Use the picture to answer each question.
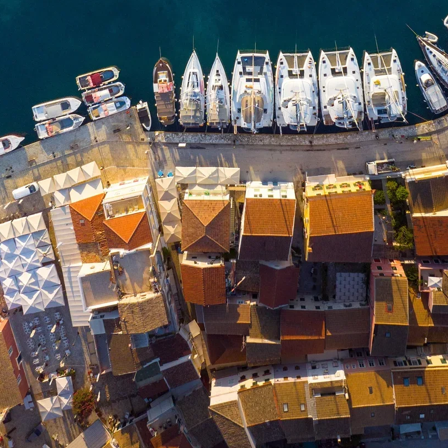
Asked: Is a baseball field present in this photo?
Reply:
No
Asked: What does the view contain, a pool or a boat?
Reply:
boat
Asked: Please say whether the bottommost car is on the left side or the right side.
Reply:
left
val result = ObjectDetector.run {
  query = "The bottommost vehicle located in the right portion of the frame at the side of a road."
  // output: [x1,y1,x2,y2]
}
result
[367,160,400,177]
